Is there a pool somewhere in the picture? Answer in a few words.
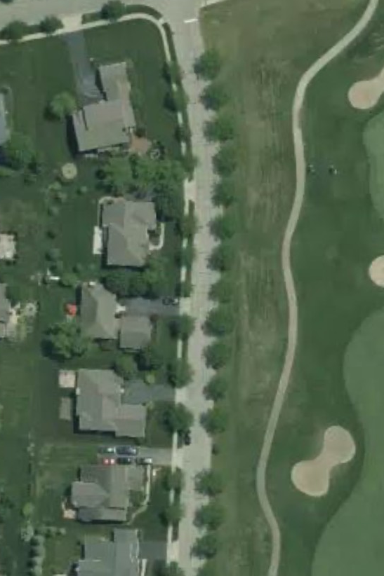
No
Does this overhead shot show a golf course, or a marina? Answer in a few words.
golf course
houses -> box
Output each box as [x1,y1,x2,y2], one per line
[102,200,156,267]
[78,530,140,576]
[81,283,153,349]
[0,94,10,148]
[0,284,7,338]
[77,369,147,438]
[72,466,146,522]
[70,66,135,153]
